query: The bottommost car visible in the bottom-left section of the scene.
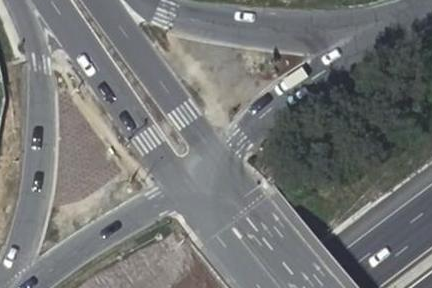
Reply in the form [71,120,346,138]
[16,274,39,288]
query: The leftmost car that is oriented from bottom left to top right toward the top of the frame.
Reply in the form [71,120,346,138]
[249,92,273,114]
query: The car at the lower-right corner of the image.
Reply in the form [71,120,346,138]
[369,246,392,266]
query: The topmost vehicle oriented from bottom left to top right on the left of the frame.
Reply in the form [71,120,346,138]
[99,218,122,238]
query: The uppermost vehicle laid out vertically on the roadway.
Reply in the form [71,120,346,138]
[30,124,42,149]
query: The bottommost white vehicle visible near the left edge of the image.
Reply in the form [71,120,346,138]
[2,244,19,267]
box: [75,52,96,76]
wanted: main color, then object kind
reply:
white car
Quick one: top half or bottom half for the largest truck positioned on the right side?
top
